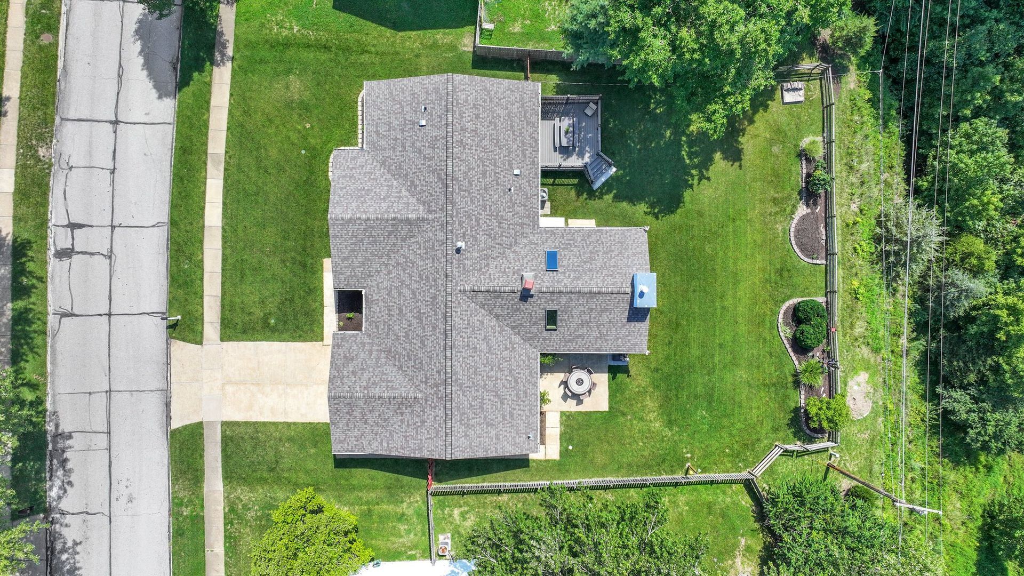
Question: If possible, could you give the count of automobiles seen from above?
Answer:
0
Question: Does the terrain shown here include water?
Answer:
No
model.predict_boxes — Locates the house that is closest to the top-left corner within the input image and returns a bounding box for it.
[329,73,657,460]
